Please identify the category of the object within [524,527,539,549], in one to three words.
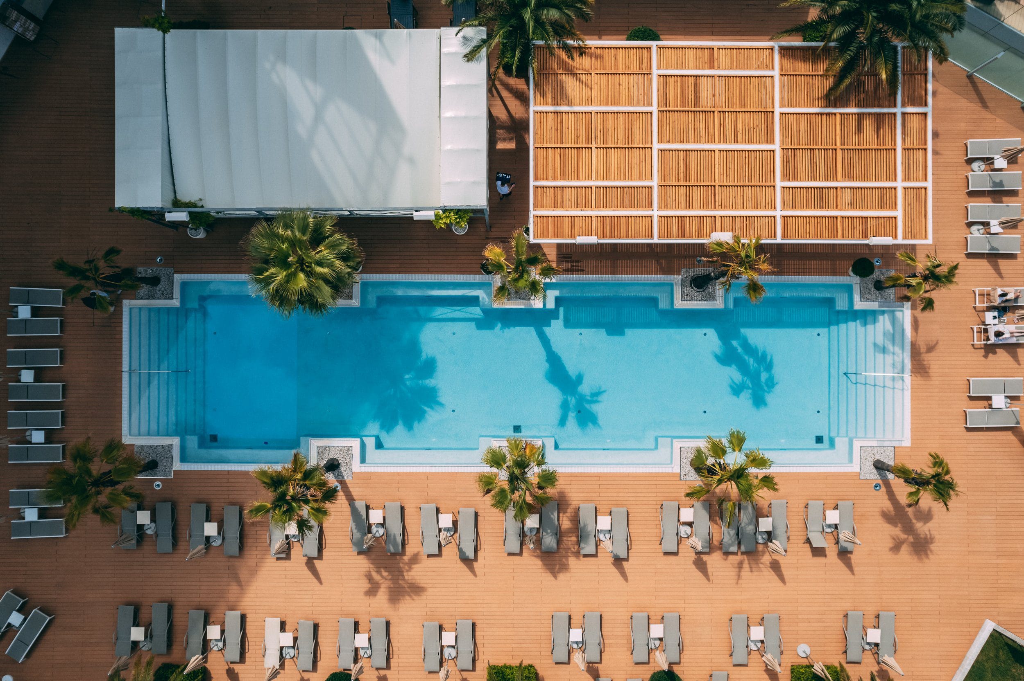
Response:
umbrella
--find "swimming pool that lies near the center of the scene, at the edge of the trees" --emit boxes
[130,281,902,465]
